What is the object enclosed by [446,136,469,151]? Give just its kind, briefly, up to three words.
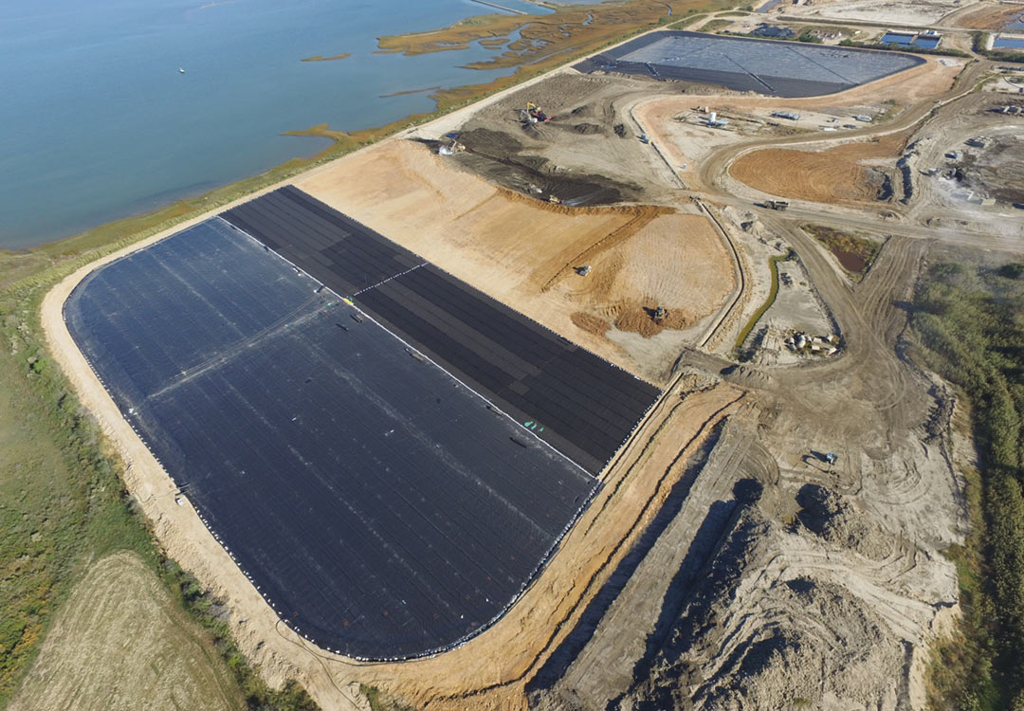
work vehicle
